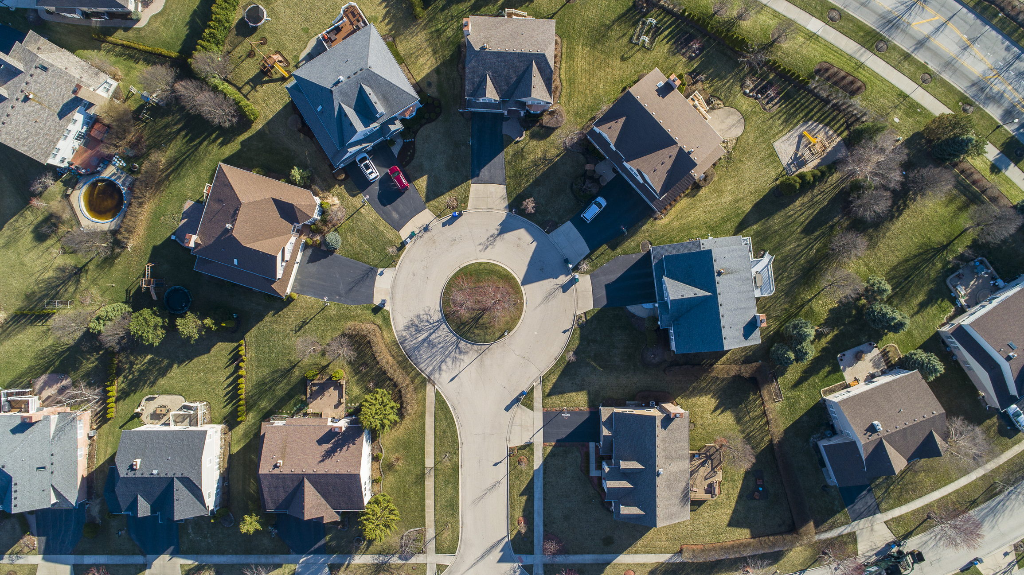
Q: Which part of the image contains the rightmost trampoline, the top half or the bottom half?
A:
top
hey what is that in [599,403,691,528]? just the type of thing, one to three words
house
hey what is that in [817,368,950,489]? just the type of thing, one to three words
house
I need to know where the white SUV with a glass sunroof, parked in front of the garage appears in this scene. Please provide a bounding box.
[355,151,379,184]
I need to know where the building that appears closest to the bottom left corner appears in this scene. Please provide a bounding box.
[0,406,91,514]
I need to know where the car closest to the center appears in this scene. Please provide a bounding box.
[581,194,606,225]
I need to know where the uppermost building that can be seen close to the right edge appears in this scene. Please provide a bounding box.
[938,276,1024,412]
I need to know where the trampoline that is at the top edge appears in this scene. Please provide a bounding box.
[240,0,270,26]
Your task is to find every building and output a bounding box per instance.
[103,428,217,524]
[0,29,116,168]
[650,235,768,354]
[285,22,420,168]
[35,0,148,17]
[462,15,556,114]
[257,415,370,523]
[817,368,950,489]
[938,276,1024,412]
[0,406,91,514]
[599,403,691,528]
[183,162,321,299]
[586,67,726,214]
